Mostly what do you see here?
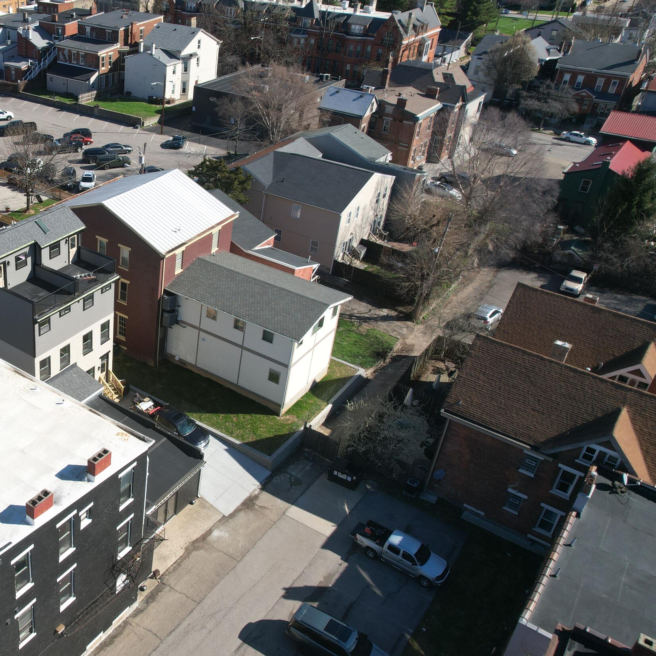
buildings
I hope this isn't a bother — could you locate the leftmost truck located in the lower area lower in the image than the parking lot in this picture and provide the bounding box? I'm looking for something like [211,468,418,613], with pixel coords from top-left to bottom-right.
[134,391,208,441]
